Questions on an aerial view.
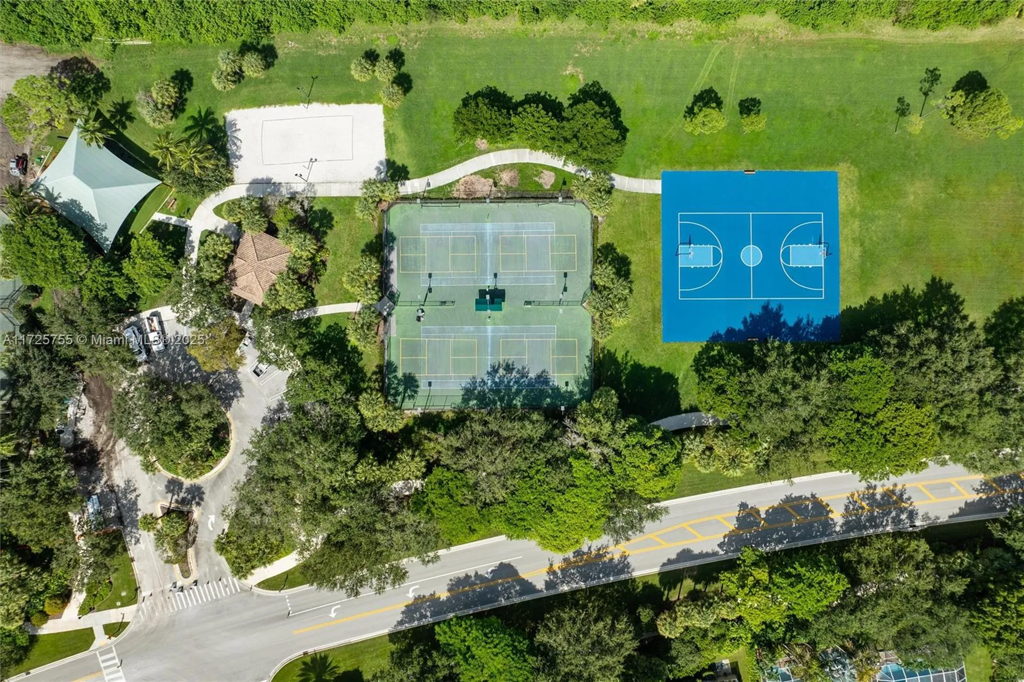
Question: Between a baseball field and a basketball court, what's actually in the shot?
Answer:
basketball court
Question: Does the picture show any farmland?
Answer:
No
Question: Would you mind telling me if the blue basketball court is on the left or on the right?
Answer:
right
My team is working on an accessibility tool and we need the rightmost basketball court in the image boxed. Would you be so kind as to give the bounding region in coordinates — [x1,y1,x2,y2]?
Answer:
[661,170,840,342]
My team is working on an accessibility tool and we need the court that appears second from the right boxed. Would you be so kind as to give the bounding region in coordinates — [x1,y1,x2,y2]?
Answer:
[387,202,593,409]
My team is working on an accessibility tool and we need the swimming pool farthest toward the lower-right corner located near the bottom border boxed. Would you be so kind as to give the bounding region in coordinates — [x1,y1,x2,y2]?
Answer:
[876,652,965,682]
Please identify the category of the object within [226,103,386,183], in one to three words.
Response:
sports court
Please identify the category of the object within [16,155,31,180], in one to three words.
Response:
work vehicle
